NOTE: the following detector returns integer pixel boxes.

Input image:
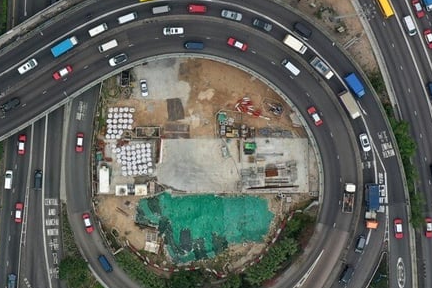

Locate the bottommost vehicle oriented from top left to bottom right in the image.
[97,253,113,273]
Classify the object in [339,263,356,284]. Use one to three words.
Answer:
vehicle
